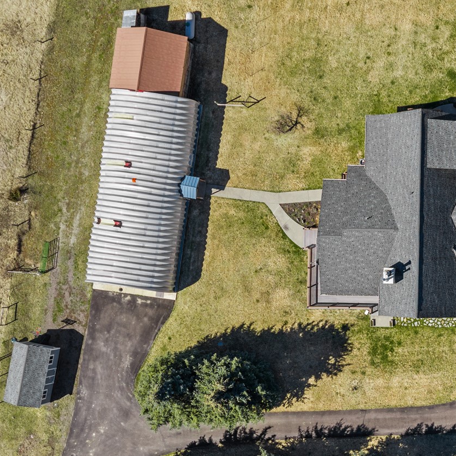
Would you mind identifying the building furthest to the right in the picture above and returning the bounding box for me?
[319,108,456,318]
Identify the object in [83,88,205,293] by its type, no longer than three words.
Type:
building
